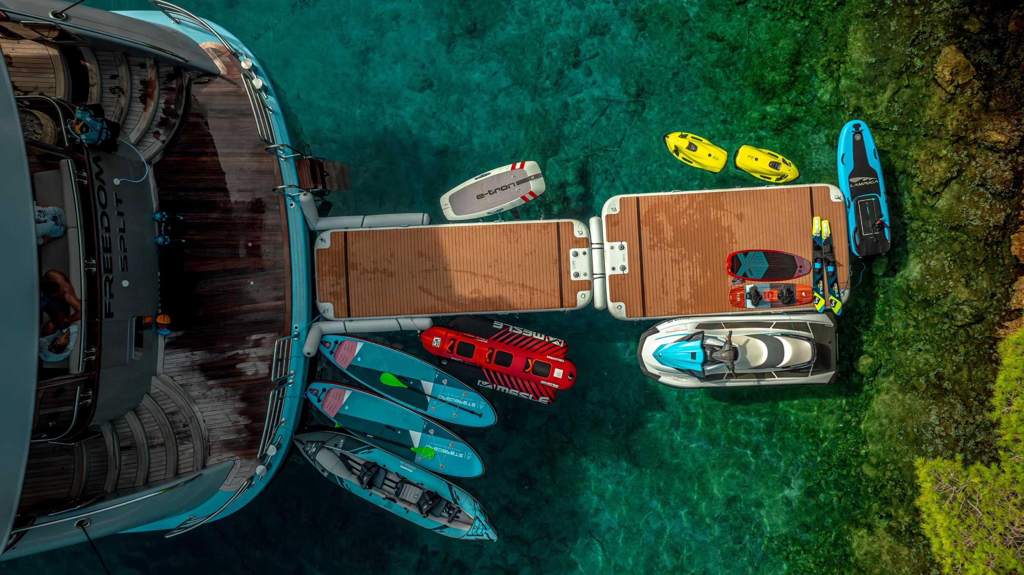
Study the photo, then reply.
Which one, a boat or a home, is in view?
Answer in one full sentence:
I can see a boat in this picture.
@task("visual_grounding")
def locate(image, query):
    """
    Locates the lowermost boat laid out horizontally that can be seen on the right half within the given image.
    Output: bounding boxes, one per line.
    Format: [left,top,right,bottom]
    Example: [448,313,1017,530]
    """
[632,311,839,388]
